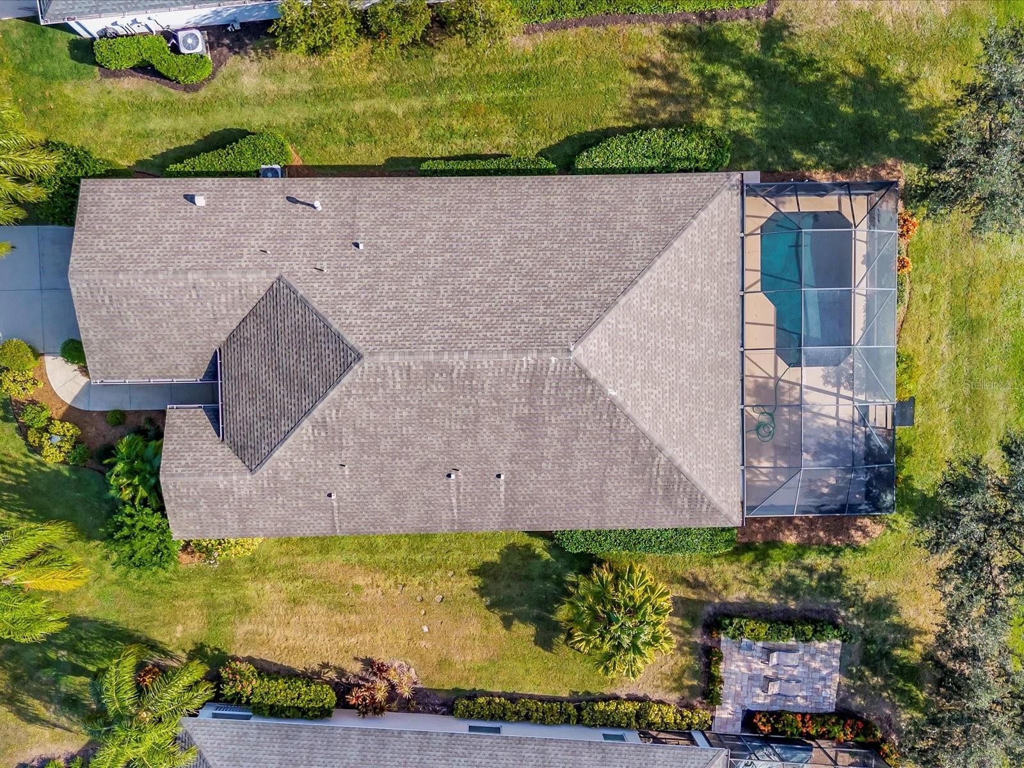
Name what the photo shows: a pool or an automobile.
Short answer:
pool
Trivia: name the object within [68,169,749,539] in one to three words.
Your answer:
house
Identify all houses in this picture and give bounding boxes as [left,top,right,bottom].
[68,169,749,539]
[176,706,733,768]
[30,0,461,38]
